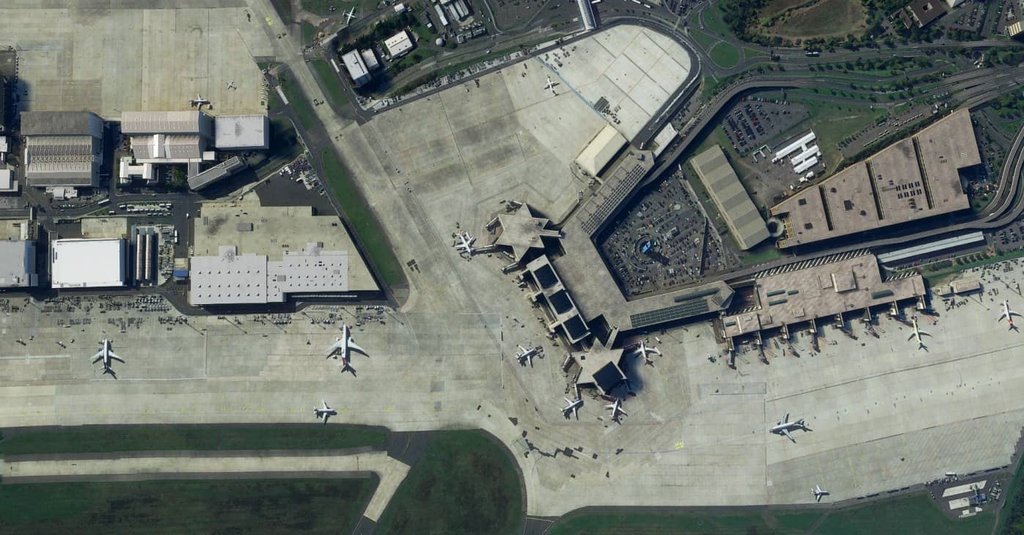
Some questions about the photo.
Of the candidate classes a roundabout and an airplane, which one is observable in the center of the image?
airplane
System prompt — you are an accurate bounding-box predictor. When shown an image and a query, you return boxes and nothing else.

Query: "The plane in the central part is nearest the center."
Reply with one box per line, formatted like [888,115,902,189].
[452,231,473,254]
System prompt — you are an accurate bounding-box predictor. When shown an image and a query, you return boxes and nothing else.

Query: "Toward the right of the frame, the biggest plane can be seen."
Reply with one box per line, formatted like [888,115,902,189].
[769,409,806,441]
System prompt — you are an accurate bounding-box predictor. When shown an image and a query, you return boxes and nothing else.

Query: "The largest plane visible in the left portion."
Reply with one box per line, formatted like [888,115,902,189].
[323,325,365,368]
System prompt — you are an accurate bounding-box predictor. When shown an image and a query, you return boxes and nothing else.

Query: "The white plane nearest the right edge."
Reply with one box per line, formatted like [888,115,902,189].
[998,300,1023,327]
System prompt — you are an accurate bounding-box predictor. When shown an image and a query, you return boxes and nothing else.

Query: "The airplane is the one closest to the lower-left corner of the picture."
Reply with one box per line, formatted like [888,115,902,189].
[89,338,122,369]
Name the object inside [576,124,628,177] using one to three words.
hangar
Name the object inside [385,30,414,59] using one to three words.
building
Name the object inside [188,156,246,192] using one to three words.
building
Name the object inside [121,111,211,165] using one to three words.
hangar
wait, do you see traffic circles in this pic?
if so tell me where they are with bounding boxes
[702,34,745,77]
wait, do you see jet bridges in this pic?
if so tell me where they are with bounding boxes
[561,353,572,373]
[914,296,942,317]
[602,393,616,403]
[484,216,500,230]
[622,342,641,352]
[861,307,881,339]
[834,312,858,342]
[469,243,497,253]
[888,301,916,328]
[507,199,523,205]
[806,319,821,354]
[753,330,770,365]
[779,325,800,359]
[725,337,737,371]
[500,261,519,273]
[500,249,513,259]
[625,378,637,397]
